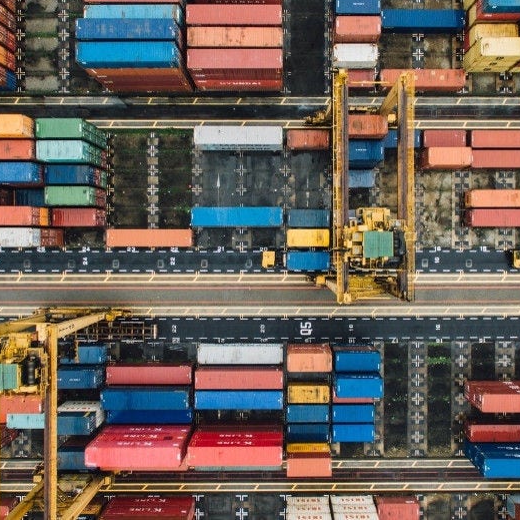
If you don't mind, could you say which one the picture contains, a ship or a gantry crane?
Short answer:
gantry crane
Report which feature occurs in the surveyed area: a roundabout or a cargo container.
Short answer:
cargo container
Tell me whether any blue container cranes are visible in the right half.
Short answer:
No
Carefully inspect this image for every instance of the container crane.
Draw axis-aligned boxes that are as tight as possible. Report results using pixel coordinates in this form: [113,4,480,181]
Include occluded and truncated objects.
[299,70,415,304]
[0,308,135,520]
